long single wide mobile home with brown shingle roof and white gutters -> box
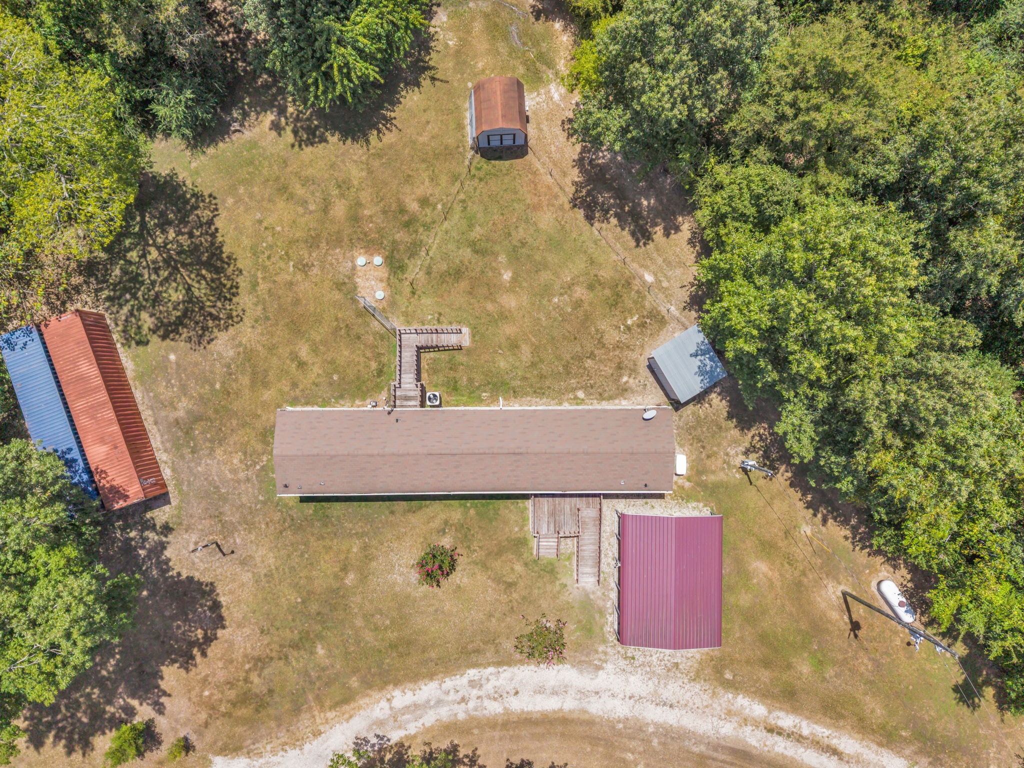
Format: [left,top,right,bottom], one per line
[271,406,675,498]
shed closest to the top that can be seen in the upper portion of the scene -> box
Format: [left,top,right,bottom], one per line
[476,76,527,145]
